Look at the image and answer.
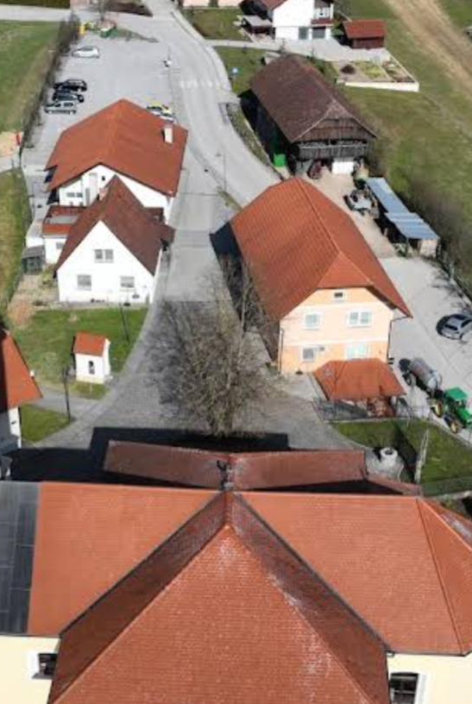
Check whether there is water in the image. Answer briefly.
No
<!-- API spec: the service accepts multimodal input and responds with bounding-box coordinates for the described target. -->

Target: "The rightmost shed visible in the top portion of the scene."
[373,205,442,260]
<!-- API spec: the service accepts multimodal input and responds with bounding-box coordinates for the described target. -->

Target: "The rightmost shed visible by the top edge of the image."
[346,22,387,48]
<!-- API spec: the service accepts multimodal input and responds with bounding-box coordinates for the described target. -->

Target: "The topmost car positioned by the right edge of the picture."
[431,309,472,336]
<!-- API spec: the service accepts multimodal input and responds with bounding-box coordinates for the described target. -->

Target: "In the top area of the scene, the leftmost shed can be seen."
[22,243,50,271]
